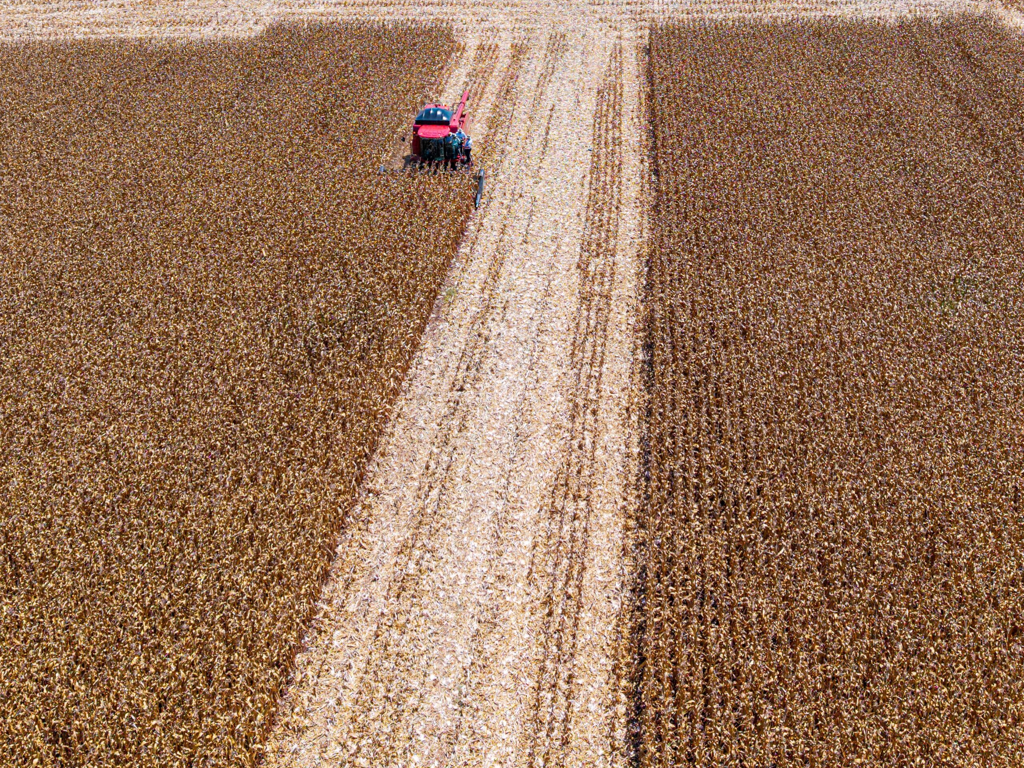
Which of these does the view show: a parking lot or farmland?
farmland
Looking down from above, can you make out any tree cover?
No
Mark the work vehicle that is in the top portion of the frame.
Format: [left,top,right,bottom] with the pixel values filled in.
[376,84,487,213]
